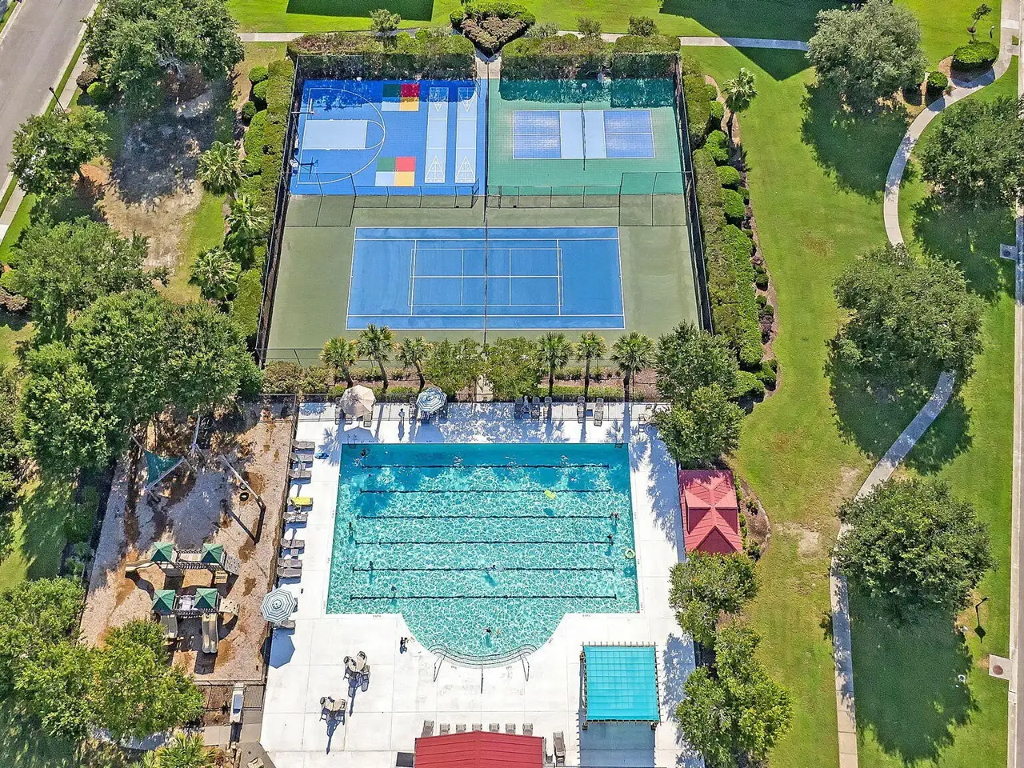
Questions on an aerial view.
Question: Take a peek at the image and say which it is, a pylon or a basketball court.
basketball court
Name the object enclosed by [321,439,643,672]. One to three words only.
swimming pool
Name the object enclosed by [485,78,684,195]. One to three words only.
sports court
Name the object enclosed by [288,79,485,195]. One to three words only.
basketball court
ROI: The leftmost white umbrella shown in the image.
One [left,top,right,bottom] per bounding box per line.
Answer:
[259,593,298,631]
